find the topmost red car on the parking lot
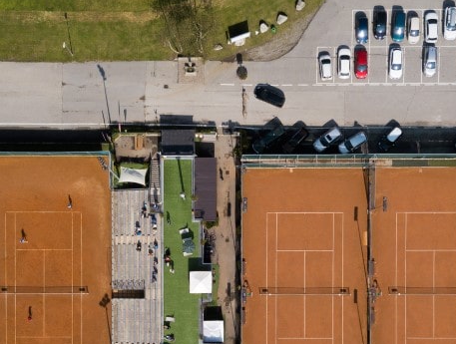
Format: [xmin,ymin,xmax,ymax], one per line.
[354,49,369,78]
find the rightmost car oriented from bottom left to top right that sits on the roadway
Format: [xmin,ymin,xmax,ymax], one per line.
[377,124,403,151]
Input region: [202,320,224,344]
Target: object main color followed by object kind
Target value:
white tent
